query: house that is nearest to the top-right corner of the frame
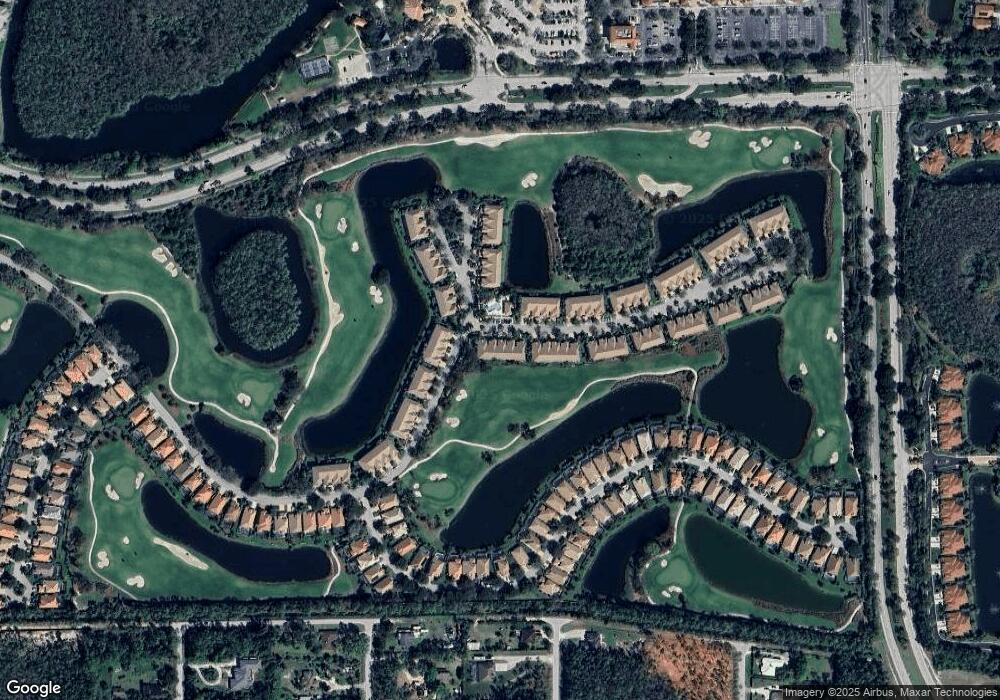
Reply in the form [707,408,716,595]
[974,1,994,29]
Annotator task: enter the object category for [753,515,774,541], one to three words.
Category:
house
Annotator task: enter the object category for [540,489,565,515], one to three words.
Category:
house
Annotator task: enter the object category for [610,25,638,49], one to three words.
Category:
building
